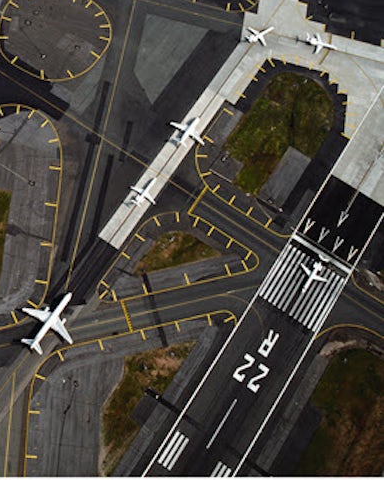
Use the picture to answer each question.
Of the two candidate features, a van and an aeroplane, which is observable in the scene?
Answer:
aeroplane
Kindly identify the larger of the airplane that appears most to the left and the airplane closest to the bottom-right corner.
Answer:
the airplane that appears most to the left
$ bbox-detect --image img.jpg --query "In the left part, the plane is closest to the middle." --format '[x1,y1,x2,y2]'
[131,178,157,207]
